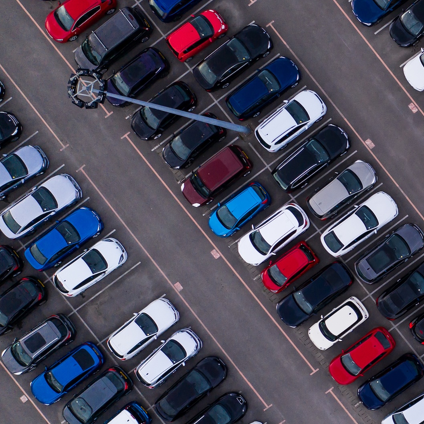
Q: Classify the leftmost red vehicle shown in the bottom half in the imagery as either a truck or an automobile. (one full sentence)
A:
I'd identify the leftmost red vehicle shown in the bottom half as an automobile.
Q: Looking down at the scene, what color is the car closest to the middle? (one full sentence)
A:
From above, the car closest to the middle appears blue.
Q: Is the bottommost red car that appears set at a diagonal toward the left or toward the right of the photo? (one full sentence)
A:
The bottommost red car that appears set at a diagonal sits on the right side.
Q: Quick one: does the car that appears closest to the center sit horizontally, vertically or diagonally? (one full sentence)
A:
The car that appears closest to the center has been laid out diagonally relative to the frame.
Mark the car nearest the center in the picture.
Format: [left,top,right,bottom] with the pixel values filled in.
[206,179,275,238]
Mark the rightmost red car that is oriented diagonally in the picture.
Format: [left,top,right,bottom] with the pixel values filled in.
[327,326,397,386]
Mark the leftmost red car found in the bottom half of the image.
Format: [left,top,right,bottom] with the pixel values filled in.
[260,239,320,292]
